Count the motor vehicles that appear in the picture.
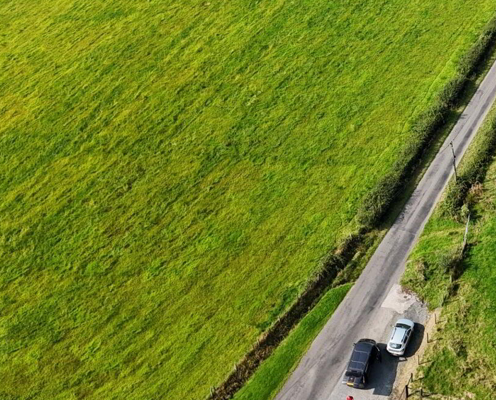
2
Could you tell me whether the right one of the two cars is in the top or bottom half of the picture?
bottom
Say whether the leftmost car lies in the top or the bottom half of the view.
bottom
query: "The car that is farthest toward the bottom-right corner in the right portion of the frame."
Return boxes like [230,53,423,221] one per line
[385,319,415,358]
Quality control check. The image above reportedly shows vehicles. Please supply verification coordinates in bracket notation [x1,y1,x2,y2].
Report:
[340,338,379,386]
[385,319,415,358]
